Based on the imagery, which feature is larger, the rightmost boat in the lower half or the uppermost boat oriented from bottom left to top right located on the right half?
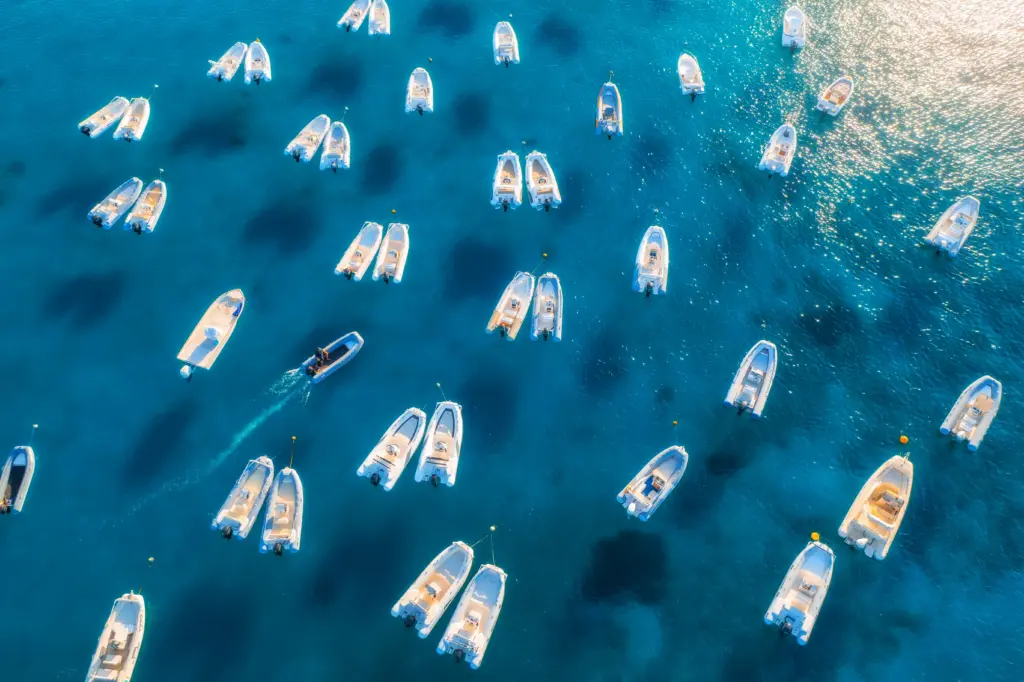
the rightmost boat in the lower half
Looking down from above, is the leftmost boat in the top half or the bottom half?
bottom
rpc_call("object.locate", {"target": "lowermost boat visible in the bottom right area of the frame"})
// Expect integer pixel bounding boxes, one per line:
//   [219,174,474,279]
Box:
[765,540,831,646]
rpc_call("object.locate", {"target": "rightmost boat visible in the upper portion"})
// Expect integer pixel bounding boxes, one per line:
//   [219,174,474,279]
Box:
[925,199,980,258]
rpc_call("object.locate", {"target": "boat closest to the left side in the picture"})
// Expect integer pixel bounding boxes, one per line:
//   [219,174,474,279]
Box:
[0,445,34,513]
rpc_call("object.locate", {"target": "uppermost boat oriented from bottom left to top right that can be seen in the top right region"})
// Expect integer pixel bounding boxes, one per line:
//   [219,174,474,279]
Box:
[817,76,854,118]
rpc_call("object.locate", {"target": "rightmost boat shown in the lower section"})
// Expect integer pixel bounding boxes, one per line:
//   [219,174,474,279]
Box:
[940,374,998,452]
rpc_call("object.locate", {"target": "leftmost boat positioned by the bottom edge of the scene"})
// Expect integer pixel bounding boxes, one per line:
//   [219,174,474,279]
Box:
[85,589,145,682]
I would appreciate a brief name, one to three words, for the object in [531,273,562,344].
boat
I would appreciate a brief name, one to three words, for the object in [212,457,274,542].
boat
